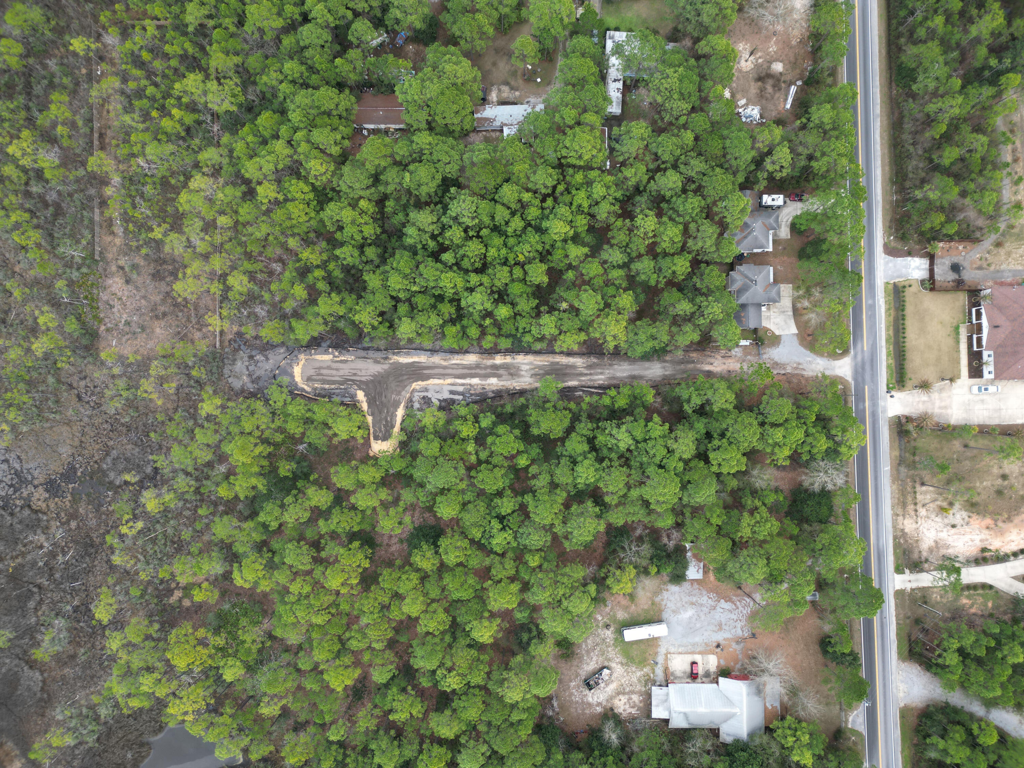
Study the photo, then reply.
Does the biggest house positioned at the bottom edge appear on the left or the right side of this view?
right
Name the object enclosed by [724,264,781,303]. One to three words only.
house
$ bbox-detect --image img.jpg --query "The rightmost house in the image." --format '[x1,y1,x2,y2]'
[967,284,1024,379]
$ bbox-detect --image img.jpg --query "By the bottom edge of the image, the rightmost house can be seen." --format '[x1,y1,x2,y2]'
[667,670,765,743]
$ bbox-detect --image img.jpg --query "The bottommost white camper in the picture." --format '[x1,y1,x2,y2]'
[622,622,667,641]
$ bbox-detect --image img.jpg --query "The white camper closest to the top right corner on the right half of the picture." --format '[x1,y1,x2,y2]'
[759,195,784,210]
